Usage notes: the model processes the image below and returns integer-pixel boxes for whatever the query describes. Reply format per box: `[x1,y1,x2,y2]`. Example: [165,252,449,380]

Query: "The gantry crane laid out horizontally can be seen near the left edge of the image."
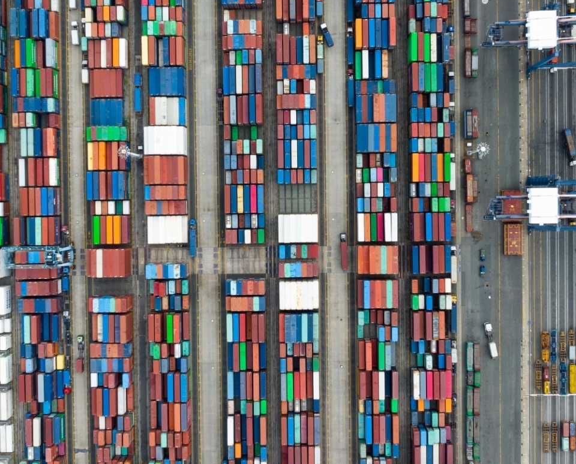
[3,236,74,271]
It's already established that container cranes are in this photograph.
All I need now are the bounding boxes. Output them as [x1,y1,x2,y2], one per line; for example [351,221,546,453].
[472,166,576,240]
[3,236,74,271]
[470,1,576,85]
